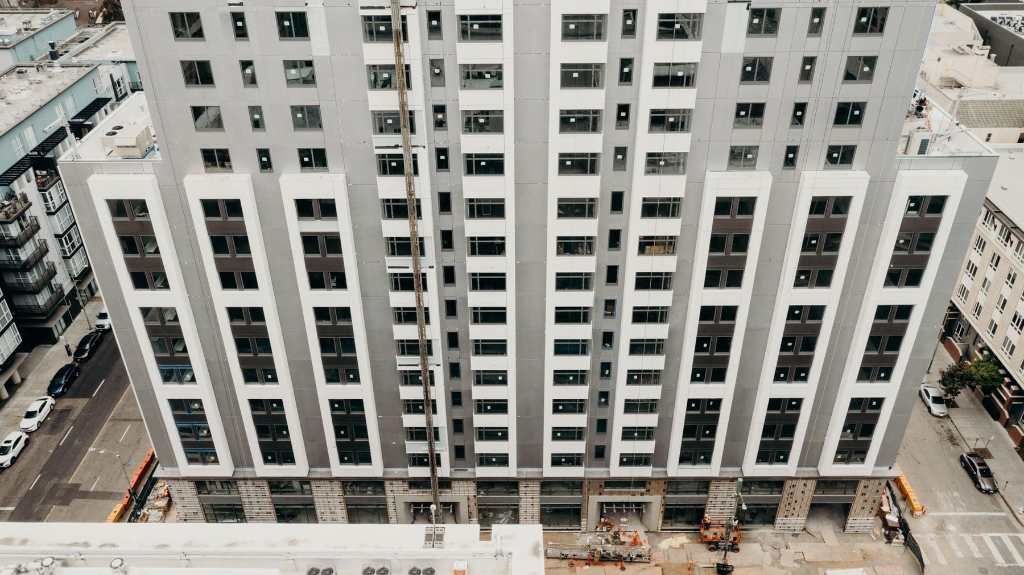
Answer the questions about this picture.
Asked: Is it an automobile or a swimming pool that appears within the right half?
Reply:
automobile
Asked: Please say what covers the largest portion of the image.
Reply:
buildings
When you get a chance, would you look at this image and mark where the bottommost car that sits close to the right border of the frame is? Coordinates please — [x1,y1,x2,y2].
[961,455,1000,495]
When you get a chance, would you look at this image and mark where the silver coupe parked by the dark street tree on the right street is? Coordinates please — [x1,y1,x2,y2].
[918,385,949,418]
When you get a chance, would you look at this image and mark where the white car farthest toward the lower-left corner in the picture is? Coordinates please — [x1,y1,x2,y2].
[0,432,32,465]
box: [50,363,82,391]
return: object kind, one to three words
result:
car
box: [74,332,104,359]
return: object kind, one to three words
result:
car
